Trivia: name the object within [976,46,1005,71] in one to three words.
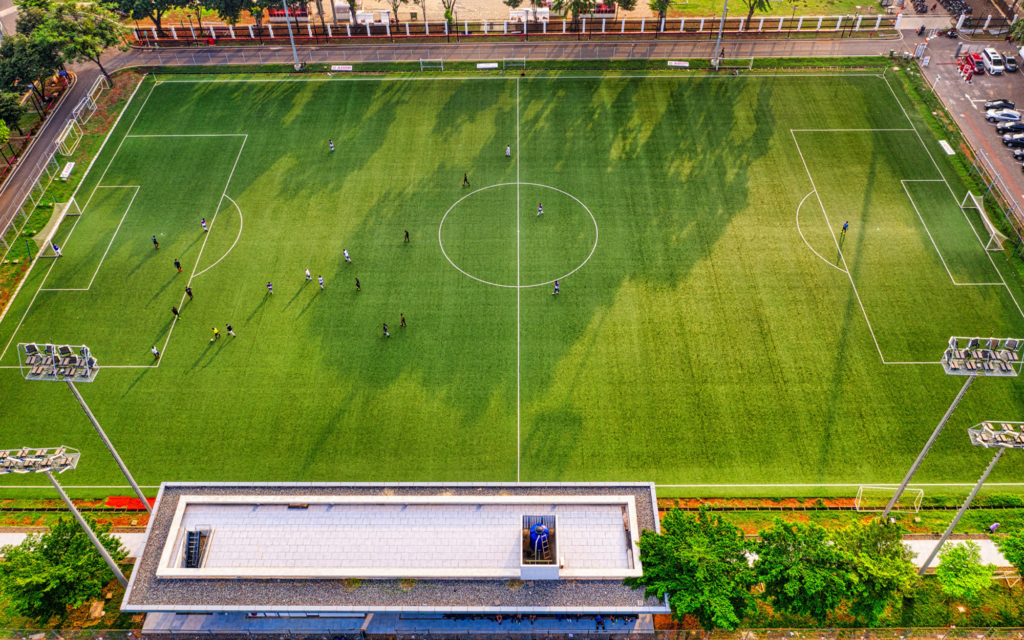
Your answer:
car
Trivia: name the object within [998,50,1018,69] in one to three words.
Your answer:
car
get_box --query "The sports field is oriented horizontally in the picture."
[0,70,1024,499]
